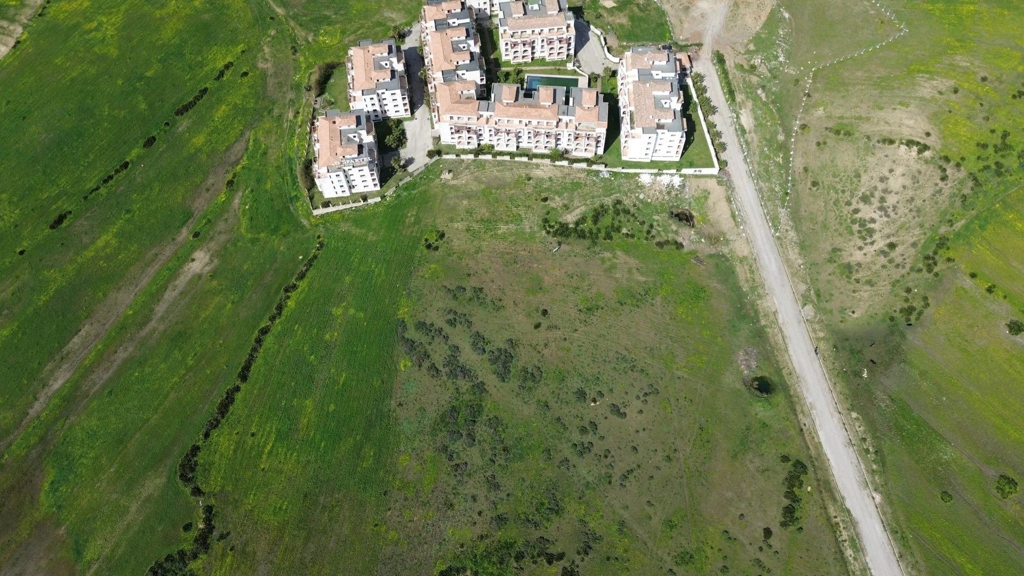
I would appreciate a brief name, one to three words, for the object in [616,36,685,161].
building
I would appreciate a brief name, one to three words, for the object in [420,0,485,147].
building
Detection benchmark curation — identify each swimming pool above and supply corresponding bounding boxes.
[524,74,587,97]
